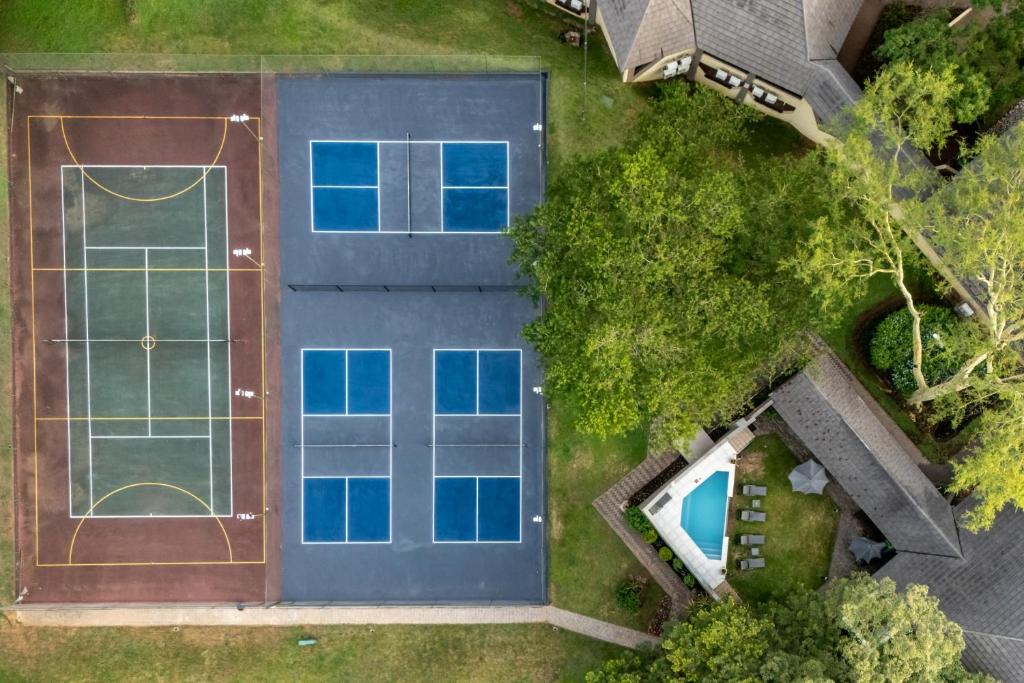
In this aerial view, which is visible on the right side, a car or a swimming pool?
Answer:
swimming pool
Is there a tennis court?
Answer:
Yes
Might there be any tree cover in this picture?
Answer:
Yes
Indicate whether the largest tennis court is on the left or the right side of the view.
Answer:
left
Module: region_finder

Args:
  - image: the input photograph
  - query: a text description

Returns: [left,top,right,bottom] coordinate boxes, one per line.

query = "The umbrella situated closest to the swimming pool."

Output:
[787,457,827,498]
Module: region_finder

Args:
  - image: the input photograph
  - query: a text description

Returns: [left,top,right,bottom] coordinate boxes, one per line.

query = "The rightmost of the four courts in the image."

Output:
[433,349,522,543]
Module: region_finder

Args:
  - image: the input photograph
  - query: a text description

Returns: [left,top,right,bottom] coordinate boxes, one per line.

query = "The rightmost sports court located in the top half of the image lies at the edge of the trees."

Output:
[310,140,509,233]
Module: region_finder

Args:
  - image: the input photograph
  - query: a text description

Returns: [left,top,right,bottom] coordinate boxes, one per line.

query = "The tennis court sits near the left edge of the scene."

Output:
[10,73,281,605]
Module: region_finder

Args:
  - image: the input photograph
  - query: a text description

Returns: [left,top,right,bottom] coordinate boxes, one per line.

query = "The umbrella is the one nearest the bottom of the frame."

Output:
[844,532,885,567]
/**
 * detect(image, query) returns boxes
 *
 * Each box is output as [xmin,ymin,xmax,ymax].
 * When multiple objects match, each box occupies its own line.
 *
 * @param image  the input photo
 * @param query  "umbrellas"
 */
[787,457,827,498]
[844,532,885,567]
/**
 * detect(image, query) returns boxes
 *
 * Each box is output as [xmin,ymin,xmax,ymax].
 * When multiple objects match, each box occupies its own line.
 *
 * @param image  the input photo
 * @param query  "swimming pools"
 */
[644,446,736,591]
